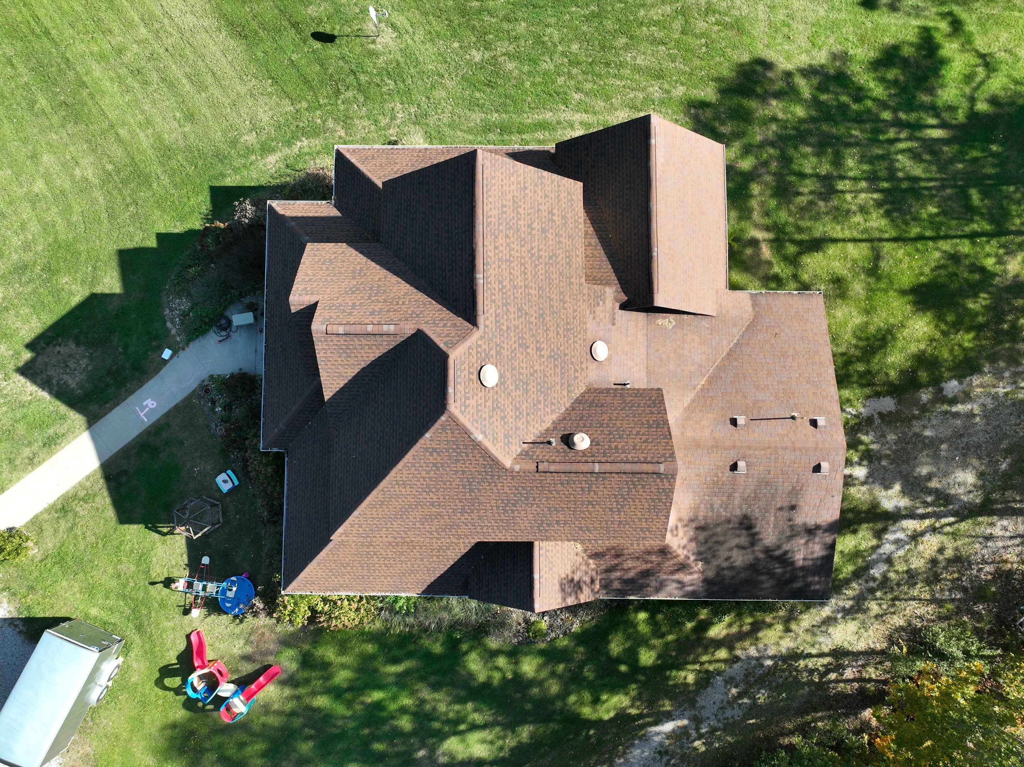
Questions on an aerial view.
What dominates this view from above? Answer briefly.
grass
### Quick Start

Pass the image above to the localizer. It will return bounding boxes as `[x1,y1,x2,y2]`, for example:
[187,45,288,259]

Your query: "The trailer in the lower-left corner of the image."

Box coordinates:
[0,610,129,767]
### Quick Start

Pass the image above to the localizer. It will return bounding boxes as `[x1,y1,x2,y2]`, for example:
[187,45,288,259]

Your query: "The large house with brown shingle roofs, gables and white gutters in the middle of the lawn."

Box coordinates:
[261,114,846,617]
